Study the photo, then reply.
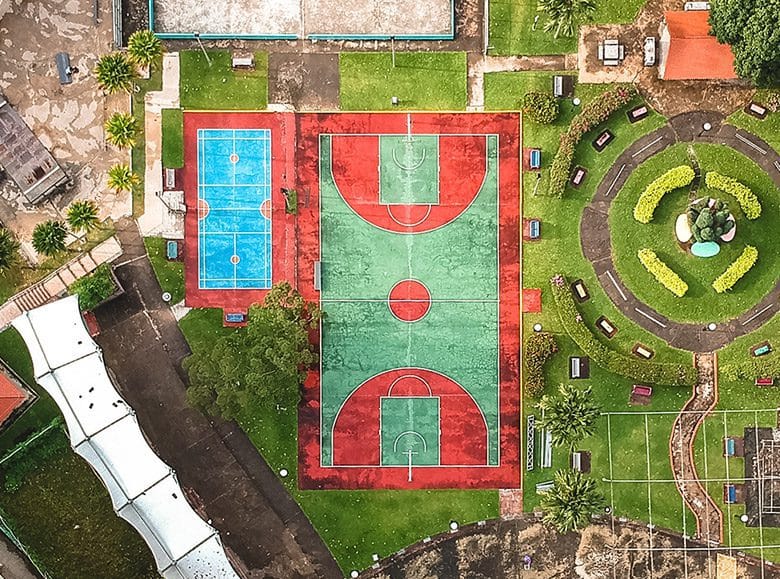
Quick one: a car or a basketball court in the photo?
basketball court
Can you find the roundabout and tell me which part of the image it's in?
right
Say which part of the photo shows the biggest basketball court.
center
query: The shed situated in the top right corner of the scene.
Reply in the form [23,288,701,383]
[657,11,742,82]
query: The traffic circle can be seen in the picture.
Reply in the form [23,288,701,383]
[582,112,780,351]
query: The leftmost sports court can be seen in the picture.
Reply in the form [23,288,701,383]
[184,111,298,327]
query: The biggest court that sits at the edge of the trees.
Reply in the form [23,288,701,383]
[184,109,523,489]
